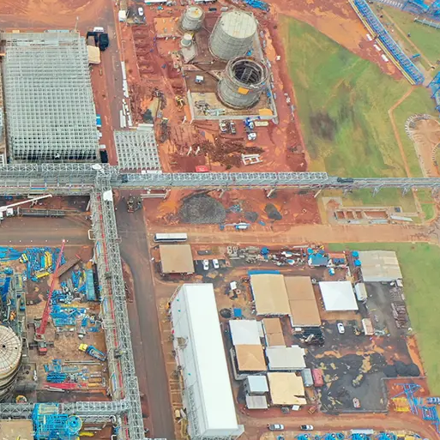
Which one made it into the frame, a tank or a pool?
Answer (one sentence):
Visible in the photo is a tank.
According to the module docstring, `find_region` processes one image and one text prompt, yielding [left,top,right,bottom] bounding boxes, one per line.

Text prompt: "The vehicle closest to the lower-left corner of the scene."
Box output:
[81,342,108,361]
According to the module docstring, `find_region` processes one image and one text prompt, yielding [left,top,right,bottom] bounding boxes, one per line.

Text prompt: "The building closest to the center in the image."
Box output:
[157,245,192,279]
